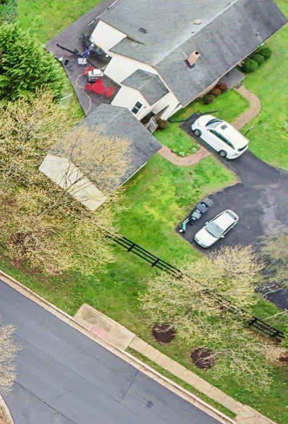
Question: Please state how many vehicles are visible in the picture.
2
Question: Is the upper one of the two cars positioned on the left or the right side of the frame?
right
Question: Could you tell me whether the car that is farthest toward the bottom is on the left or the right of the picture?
right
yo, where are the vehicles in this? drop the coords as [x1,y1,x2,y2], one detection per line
[190,208,240,250]
[189,118,248,161]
